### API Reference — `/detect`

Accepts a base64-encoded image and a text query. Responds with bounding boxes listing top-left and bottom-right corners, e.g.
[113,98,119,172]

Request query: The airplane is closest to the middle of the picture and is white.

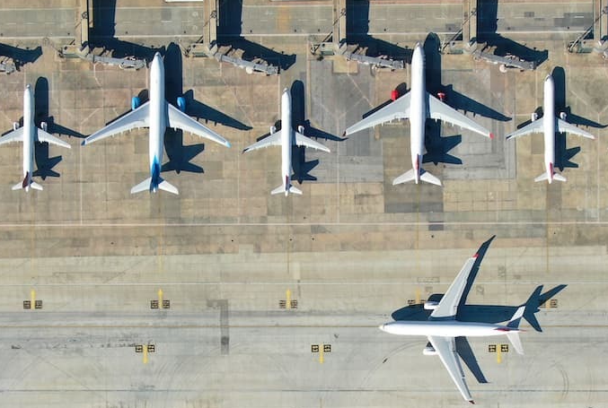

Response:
[243,88,329,195]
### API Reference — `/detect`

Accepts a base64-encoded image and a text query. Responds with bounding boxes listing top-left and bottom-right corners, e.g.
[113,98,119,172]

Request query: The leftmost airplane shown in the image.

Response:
[0,85,69,192]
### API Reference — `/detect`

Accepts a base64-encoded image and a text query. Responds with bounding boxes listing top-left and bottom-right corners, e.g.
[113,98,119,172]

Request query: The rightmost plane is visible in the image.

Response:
[508,74,593,181]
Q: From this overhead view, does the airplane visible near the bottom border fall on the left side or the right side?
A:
right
